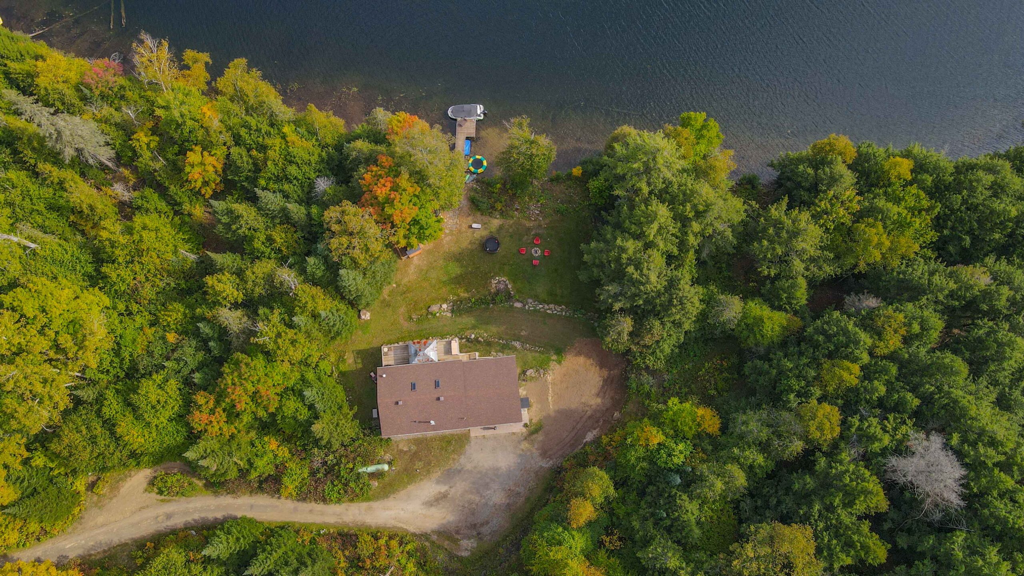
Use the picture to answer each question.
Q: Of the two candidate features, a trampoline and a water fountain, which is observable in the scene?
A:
trampoline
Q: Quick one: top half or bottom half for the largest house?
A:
bottom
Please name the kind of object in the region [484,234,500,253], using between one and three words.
trampoline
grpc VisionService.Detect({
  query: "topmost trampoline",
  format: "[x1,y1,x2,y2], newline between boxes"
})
[469,156,486,173]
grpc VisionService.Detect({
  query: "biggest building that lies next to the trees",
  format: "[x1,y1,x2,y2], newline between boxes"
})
[377,355,522,438]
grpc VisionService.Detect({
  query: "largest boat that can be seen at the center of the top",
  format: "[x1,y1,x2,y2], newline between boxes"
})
[448,104,487,120]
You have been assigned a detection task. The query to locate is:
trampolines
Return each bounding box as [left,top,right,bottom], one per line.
[469,156,486,173]
[484,234,500,253]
